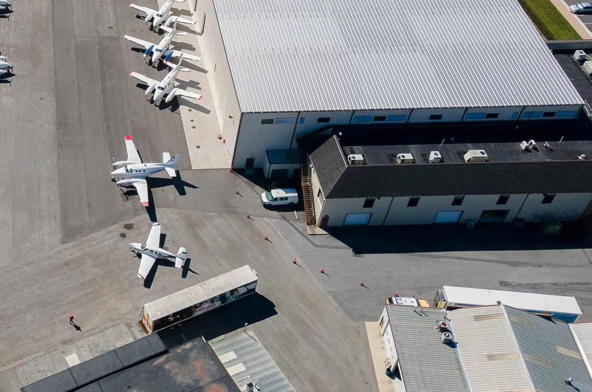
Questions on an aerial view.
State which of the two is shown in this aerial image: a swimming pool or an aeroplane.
aeroplane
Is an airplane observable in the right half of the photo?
No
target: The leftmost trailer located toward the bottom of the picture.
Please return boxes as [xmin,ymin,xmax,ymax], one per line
[135,265,258,339]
